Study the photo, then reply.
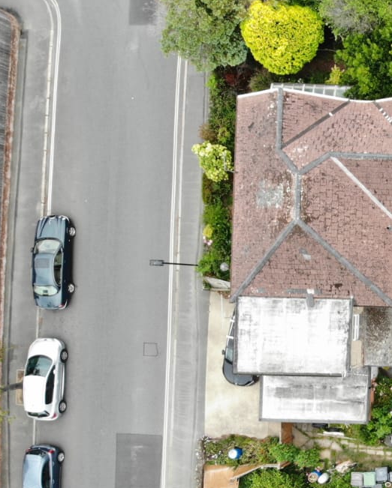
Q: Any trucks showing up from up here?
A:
No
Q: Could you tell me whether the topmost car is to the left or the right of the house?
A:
left of it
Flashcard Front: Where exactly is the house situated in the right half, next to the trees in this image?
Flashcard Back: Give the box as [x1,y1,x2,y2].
[230,81,392,423]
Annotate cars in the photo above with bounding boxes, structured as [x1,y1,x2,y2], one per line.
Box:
[28,215,80,311]
[219,304,264,388]
[21,336,72,421]
[23,442,69,488]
